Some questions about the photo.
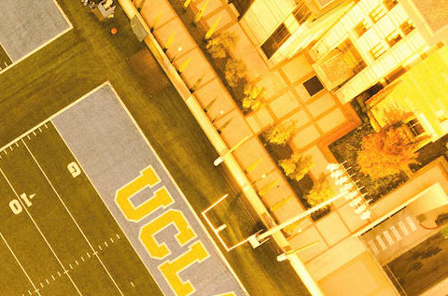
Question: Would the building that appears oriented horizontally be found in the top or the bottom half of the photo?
top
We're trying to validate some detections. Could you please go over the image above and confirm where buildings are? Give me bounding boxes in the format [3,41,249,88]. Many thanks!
[346,42,448,150]
[218,0,448,105]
